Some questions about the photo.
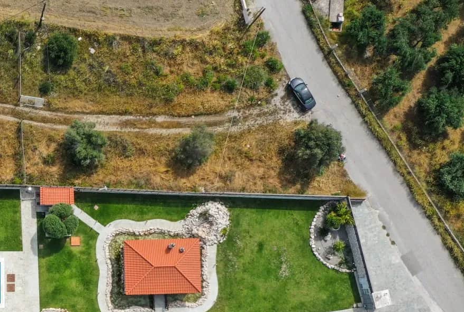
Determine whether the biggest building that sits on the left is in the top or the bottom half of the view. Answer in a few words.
bottom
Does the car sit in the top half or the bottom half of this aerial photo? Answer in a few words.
top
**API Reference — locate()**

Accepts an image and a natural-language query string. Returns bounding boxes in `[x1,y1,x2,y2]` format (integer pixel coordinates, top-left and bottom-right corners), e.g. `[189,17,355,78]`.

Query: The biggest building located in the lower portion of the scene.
[122,238,203,311]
